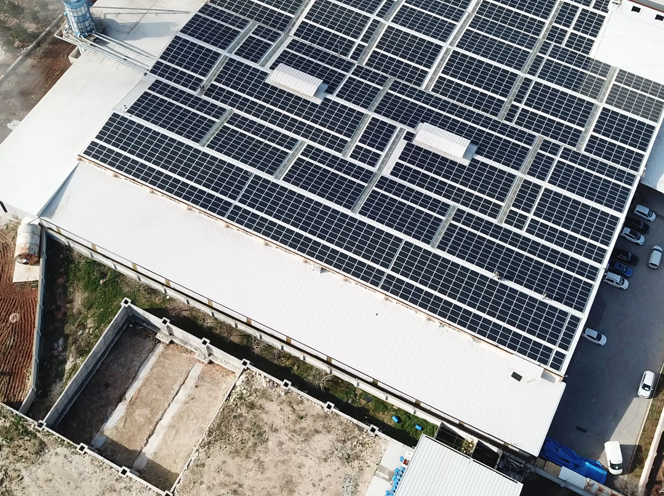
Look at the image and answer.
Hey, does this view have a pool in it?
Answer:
No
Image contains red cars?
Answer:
No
